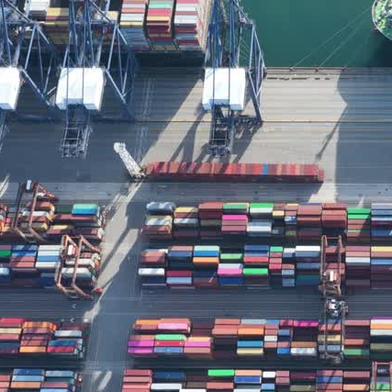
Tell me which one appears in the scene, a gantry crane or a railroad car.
gantry crane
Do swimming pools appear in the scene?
No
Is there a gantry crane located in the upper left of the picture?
Yes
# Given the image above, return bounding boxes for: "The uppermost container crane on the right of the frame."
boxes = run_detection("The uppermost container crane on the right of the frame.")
[202,0,269,161]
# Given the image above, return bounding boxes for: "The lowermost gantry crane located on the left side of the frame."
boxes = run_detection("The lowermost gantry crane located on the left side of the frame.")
[55,237,99,301]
